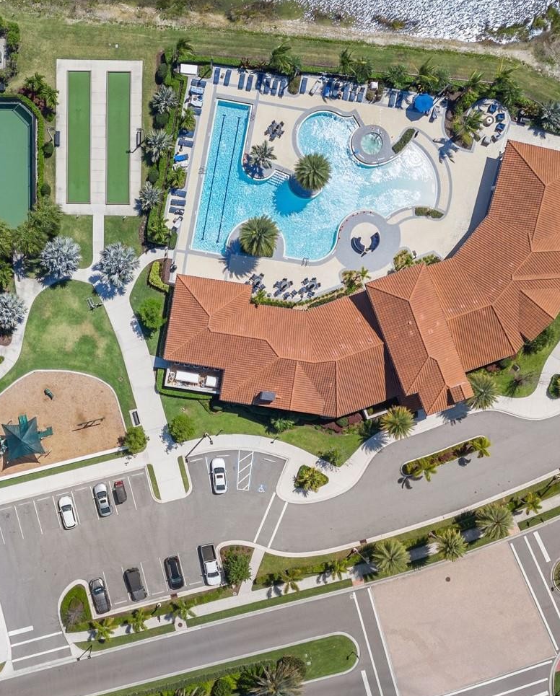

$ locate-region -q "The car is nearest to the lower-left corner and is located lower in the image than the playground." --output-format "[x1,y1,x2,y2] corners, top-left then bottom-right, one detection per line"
[90,577,109,614]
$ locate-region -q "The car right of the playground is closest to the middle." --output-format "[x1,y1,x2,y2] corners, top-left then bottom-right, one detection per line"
[210,457,226,494]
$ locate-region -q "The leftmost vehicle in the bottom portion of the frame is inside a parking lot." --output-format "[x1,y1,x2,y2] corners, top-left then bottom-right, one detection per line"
[57,495,78,531]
